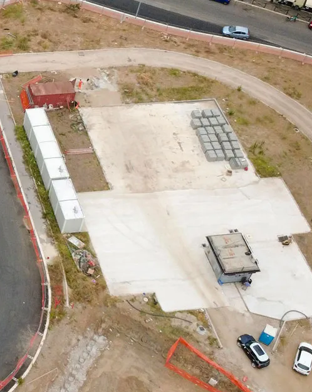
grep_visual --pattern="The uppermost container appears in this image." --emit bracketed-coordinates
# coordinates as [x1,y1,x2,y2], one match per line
[25,81,76,107]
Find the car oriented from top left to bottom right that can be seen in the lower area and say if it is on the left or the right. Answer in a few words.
right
